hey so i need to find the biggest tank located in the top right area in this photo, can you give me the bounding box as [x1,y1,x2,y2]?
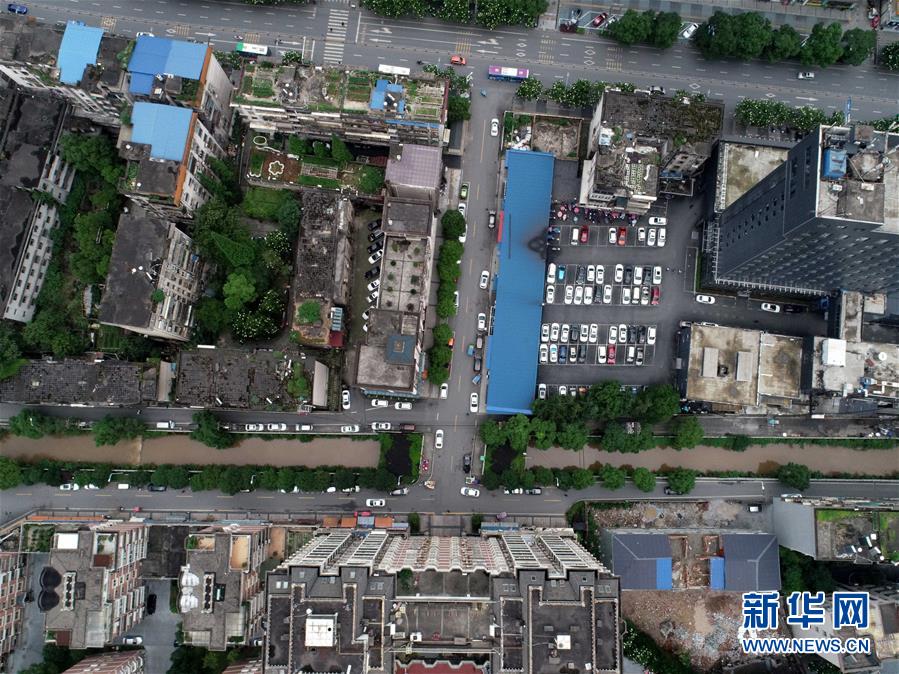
[819,149,847,183]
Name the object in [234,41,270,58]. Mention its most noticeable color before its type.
white vehicle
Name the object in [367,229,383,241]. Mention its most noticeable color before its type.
gray vehicle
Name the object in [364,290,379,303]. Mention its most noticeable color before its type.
white vehicle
